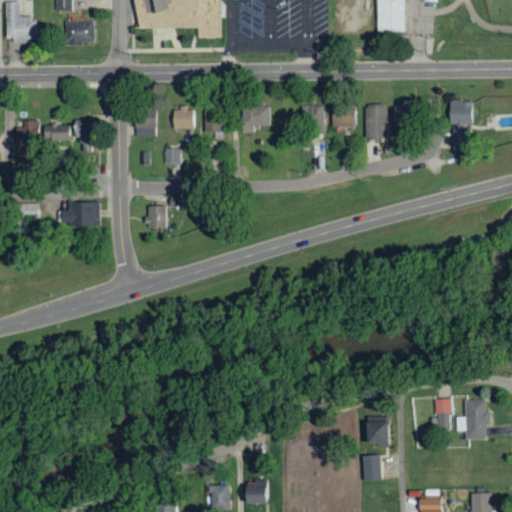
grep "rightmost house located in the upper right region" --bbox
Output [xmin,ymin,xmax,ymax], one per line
[449,100,473,127]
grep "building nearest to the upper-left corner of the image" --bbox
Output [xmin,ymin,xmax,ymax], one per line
[6,1,38,41]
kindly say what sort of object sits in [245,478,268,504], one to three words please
house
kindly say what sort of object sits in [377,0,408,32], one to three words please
building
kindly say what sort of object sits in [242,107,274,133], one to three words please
house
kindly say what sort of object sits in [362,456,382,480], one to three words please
building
